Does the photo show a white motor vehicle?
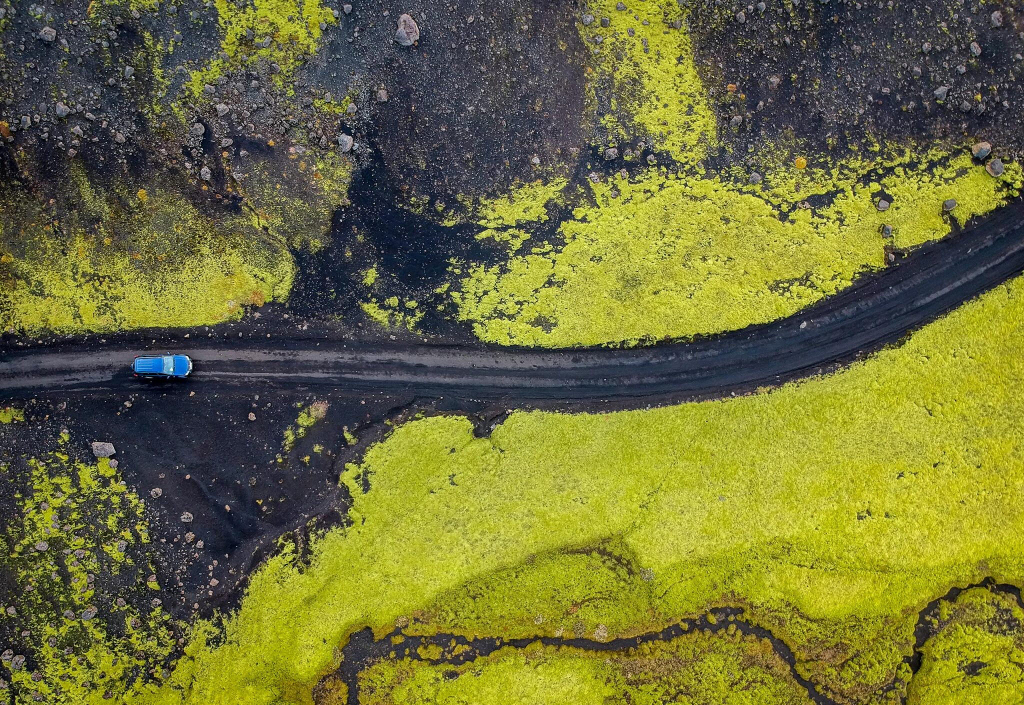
No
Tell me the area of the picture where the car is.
left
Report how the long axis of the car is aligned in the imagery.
from left to right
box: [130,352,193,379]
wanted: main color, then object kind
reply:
blue car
